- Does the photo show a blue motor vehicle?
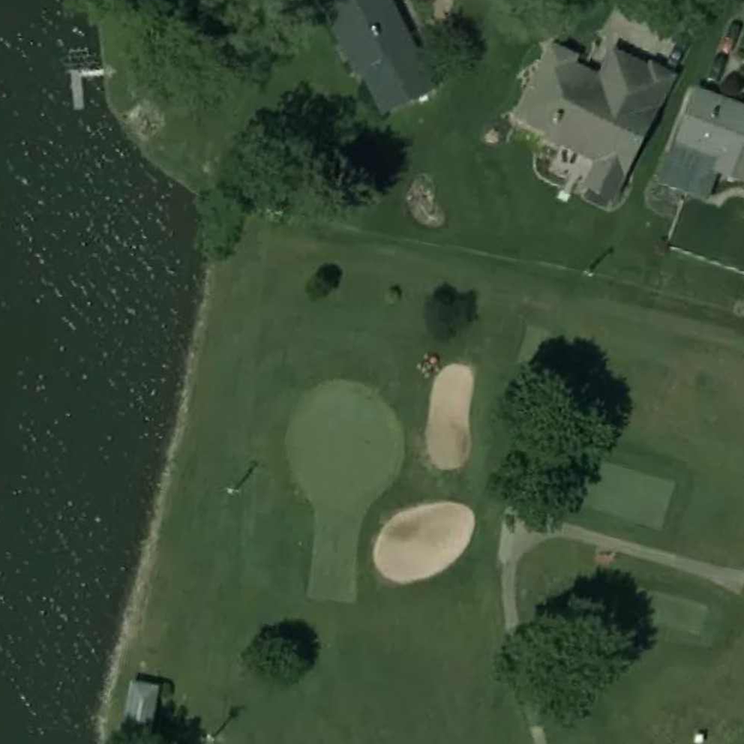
No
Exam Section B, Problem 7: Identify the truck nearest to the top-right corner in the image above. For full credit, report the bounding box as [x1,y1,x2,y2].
[719,16,744,54]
